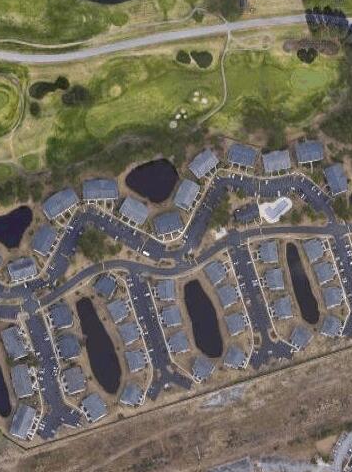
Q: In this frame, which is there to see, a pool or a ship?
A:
pool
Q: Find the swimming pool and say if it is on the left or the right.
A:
right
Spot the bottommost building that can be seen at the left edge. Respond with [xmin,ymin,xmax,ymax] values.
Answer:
[8,404,39,442]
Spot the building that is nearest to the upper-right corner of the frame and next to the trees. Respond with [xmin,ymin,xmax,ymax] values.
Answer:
[295,141,325,175]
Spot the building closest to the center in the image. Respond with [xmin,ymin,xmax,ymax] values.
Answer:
[154,211,184,241]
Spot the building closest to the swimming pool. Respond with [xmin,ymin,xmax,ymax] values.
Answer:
[235,204,260,223]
